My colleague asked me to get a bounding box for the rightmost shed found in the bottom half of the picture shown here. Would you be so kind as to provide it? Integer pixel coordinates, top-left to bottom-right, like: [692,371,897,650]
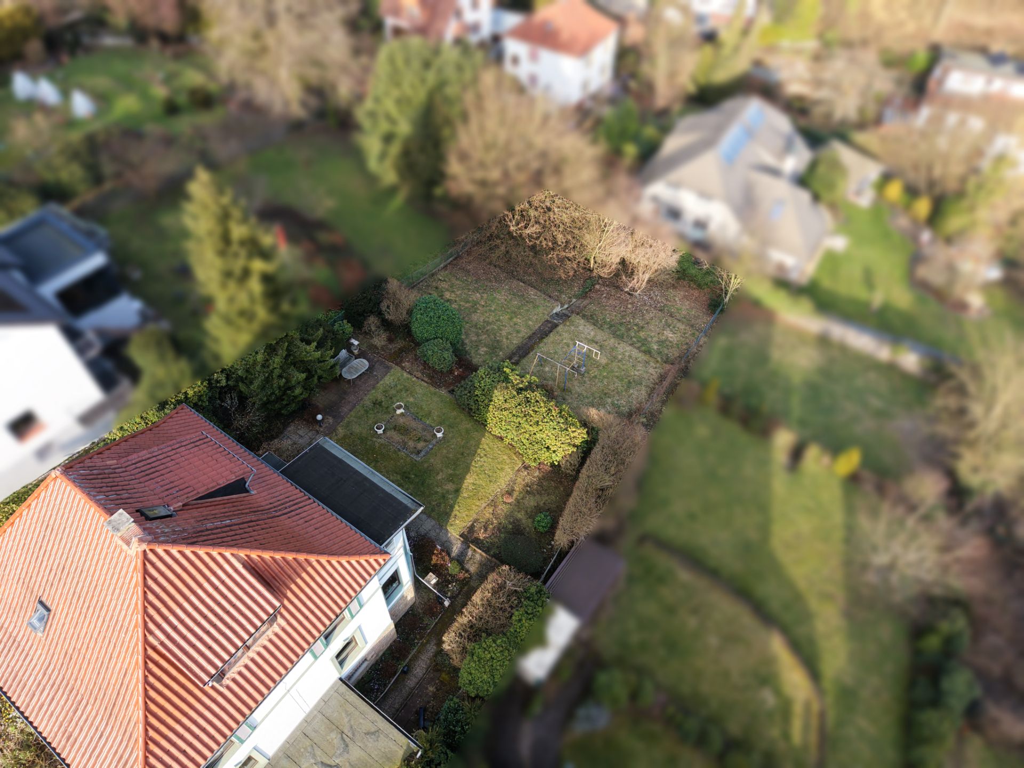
[544,537,625,626]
